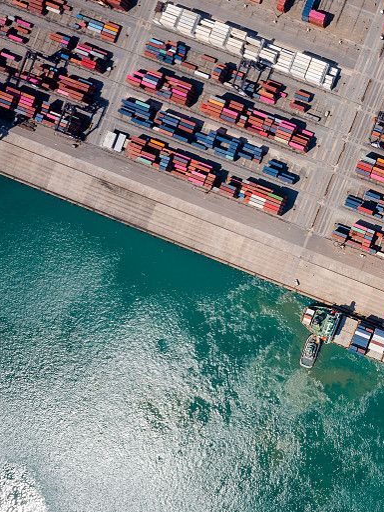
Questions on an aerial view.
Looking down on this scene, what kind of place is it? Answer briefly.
port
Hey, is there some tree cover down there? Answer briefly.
No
